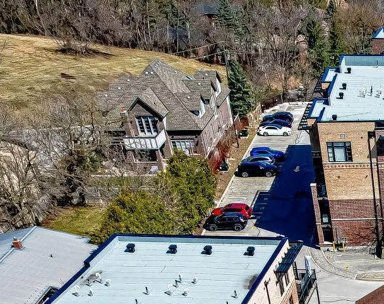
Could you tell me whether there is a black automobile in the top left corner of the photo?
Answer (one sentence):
No, I can find no black automobile in the top left corner of the photo.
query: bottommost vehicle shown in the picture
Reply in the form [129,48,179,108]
[207,213,252,233]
